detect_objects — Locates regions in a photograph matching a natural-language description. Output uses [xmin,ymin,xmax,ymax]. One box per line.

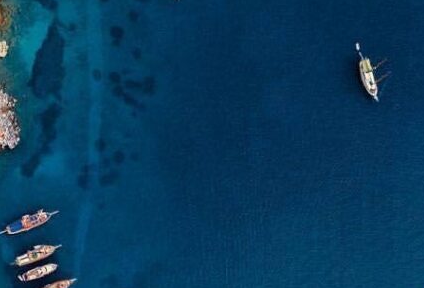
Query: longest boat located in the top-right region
[360,49,386,99]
